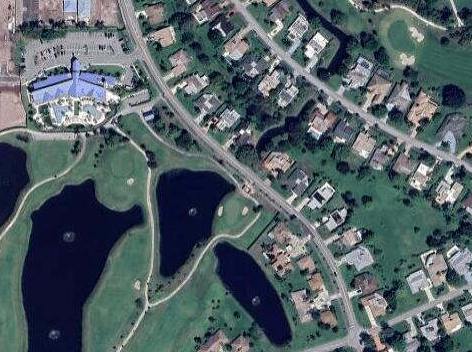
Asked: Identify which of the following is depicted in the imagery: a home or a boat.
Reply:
home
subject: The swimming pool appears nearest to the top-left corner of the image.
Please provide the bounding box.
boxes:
[52,105,69,121]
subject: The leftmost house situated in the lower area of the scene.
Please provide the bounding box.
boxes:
[197,325,230,352]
